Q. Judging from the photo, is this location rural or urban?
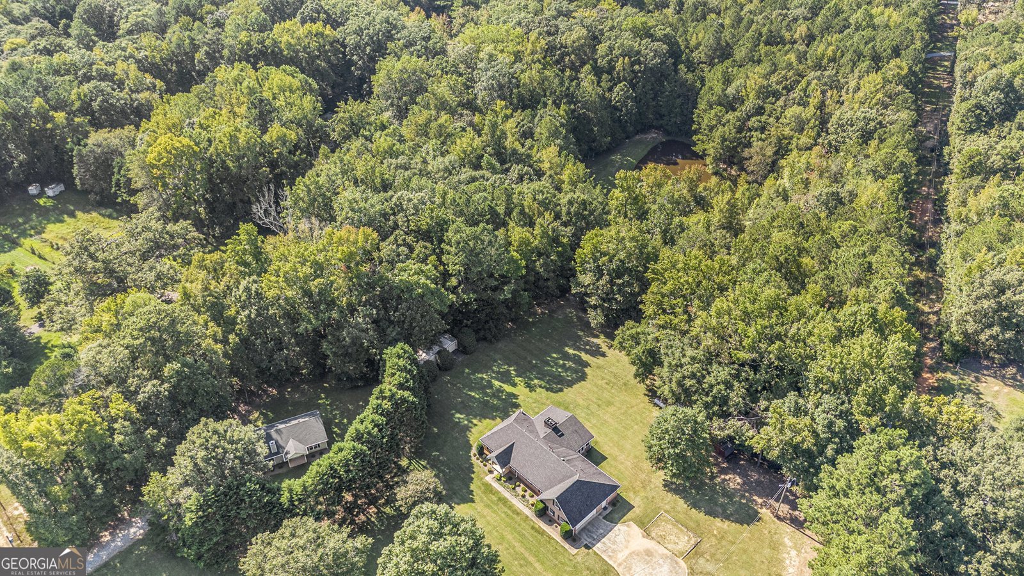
rural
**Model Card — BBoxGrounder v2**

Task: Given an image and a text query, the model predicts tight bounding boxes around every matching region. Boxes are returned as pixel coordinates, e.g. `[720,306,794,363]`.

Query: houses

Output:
[479,405,622,539]
[248,409,329,472]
